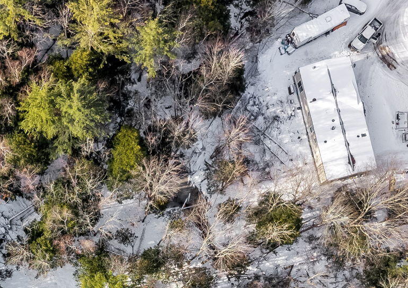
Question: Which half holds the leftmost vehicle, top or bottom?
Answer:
top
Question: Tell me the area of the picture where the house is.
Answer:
right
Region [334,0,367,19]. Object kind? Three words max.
car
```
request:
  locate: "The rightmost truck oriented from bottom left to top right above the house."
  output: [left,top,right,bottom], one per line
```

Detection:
[349,16,385,55]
